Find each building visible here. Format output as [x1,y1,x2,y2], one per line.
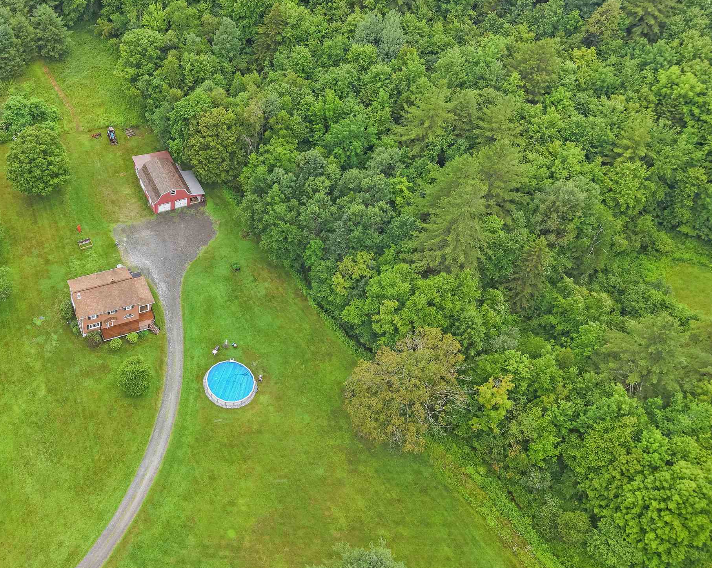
[132,151,205,214]
[68,267,160,342]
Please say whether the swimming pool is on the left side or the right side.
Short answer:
left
